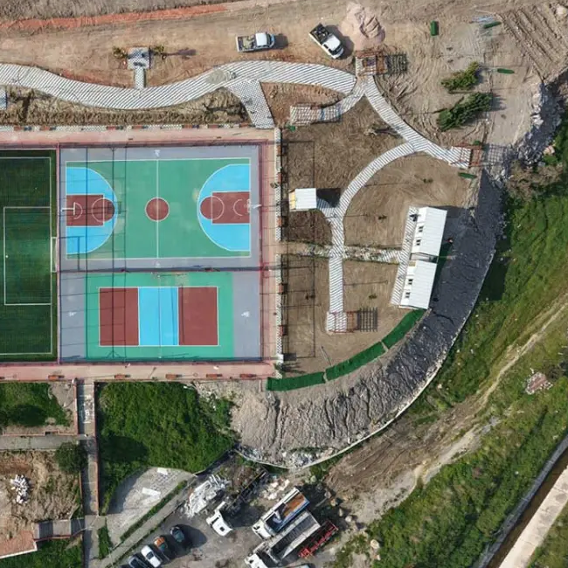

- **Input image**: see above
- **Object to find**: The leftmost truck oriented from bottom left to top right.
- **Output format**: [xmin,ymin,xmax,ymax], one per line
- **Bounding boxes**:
[209,466,271,537]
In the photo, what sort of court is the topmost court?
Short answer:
basketball court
